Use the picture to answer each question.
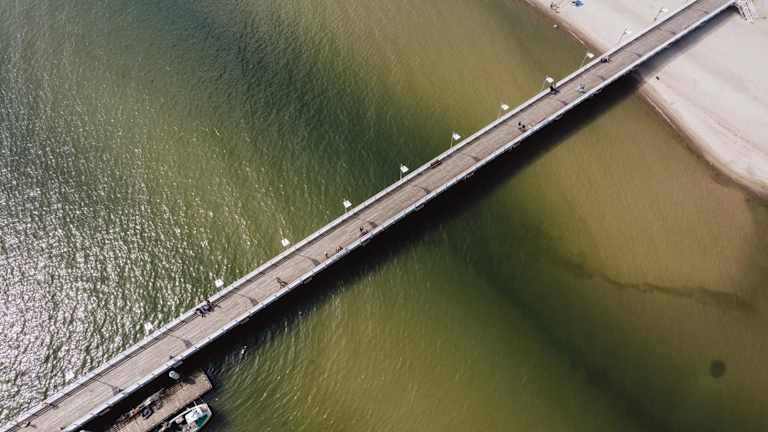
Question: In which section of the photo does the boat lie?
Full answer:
The boat appears toward the bottom left of the photo.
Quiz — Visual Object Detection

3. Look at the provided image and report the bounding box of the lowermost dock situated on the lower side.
[104,368,214,432]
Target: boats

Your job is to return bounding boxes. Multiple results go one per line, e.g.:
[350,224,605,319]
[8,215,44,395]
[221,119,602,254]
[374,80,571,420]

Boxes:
[158,404,212,432]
